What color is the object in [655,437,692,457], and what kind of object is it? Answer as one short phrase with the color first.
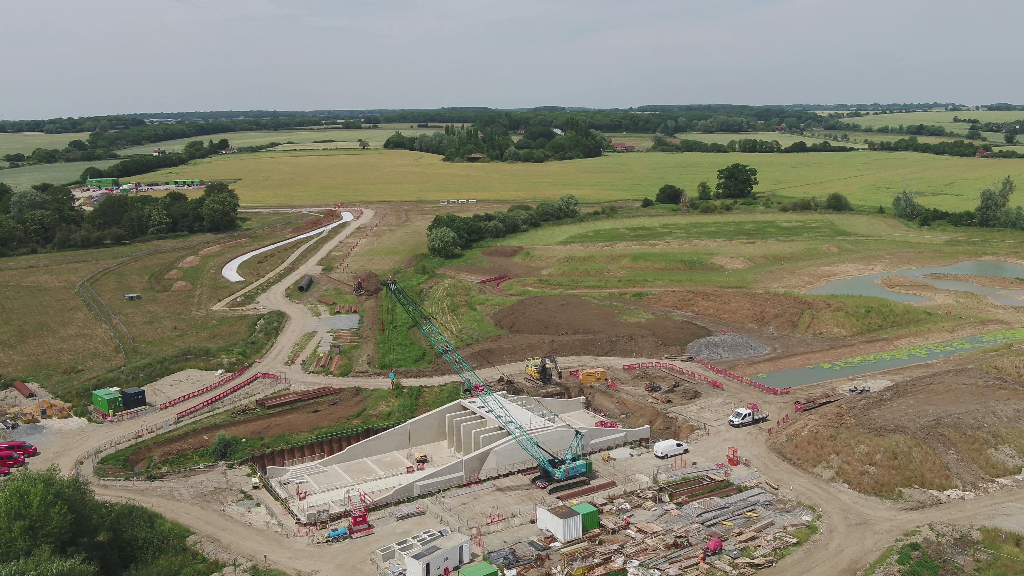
white vehicle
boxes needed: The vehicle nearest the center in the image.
[526,354,575,386]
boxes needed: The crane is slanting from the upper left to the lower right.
[376,270,599,492]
